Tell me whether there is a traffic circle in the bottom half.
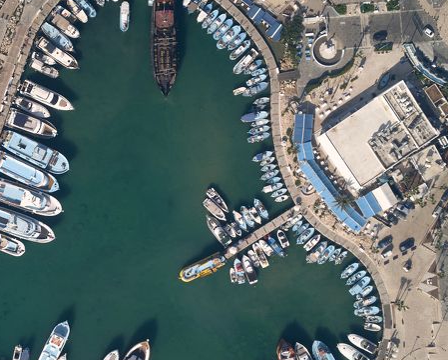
No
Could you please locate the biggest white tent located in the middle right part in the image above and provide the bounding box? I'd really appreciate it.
[373,182,398,211]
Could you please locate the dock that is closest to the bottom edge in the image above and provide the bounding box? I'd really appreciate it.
[223,208,302,260]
